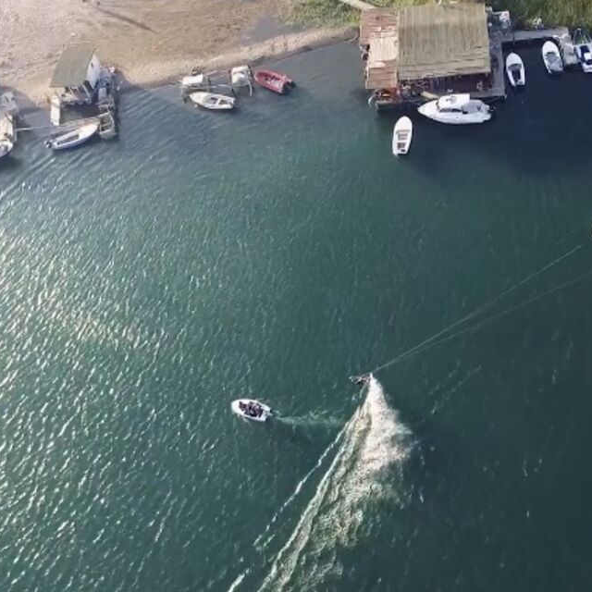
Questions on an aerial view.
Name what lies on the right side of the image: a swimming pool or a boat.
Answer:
boat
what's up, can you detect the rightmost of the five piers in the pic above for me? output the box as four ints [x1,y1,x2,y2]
[554,33,578,66]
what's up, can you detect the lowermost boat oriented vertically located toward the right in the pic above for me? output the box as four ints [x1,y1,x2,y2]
[391,114,412,160]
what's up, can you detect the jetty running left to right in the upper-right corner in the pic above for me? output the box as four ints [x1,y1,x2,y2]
[501,27,568,43]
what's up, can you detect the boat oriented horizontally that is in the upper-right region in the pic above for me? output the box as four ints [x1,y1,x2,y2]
[417,98,497,127]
